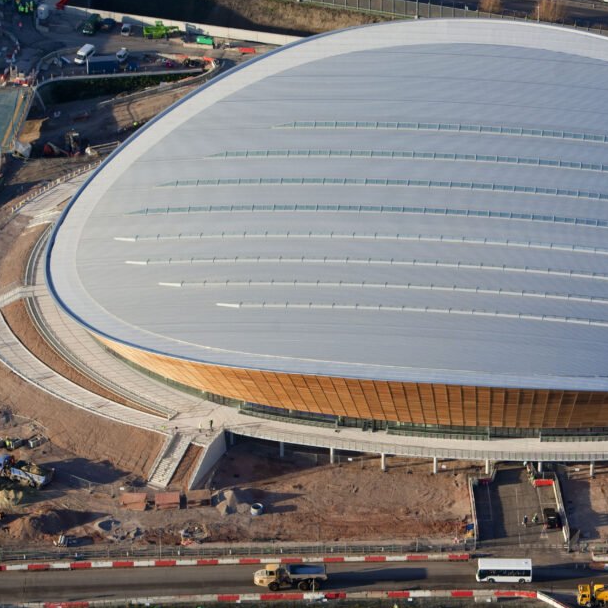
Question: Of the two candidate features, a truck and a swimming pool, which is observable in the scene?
truck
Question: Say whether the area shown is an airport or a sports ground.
sports ground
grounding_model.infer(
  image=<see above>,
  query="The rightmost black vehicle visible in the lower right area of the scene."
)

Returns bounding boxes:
[543,510,558,533]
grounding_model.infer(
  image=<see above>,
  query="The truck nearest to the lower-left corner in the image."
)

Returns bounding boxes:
[0,456,52,491]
